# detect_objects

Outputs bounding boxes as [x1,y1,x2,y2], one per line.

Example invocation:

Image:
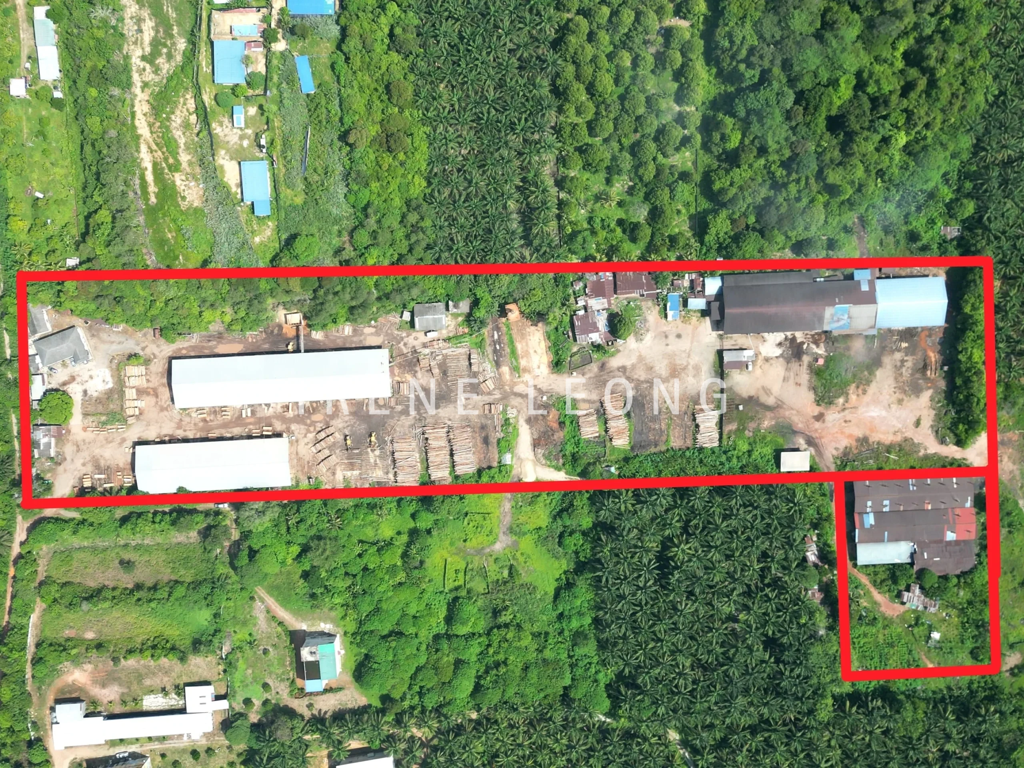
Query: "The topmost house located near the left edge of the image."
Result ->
[34,5,65,83]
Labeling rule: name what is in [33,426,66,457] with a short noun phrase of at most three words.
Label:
building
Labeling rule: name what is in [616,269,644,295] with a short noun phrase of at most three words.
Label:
house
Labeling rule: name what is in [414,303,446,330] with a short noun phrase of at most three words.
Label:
house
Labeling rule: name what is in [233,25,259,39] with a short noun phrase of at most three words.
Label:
shed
